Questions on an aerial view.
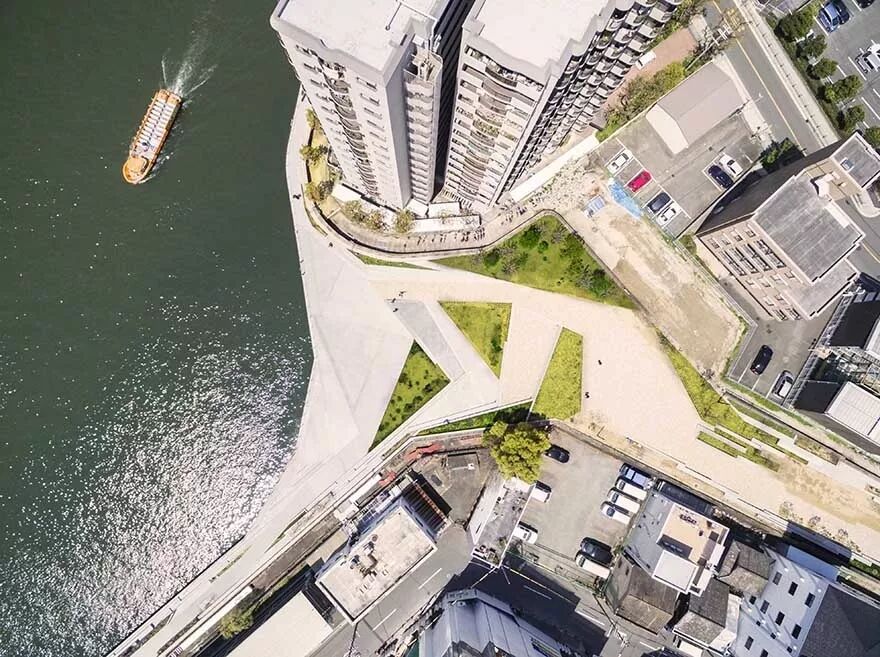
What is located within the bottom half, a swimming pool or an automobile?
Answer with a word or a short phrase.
automobile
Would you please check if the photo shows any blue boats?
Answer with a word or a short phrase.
No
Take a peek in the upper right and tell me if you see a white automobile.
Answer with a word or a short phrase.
Yes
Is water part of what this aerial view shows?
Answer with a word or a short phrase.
Yes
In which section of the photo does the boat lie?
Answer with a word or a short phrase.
top left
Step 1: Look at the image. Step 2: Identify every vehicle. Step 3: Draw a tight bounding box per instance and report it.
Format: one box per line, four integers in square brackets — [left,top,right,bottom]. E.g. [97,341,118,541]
[532,484,552,502]
[645,192,671,214]
[829,0,853,24]
[854,50,879,78]
[607,490,640,512]
[626,170,652,193]
[749,345,773,374]
[706,165,732,191]
[772,371,795,398]
[634,51,657,70]
[607,150,633,175]
[581,539,612,562]
[618,465,651,488]
[577,554,607,576]
[655,203,681,226]
[816,3,840,31]
[601,503,632,525]
[614,478,647,499]
[514,525,536,544]
[545,445,571,464]
[718,154,743,179]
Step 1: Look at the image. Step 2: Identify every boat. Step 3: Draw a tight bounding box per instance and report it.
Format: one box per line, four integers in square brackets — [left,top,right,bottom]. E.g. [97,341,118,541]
[126,90,183,184]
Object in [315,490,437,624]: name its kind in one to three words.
house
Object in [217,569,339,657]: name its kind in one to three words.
building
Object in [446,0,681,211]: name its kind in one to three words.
building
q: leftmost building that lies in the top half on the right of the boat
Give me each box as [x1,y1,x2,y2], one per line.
[266,0,476,208]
